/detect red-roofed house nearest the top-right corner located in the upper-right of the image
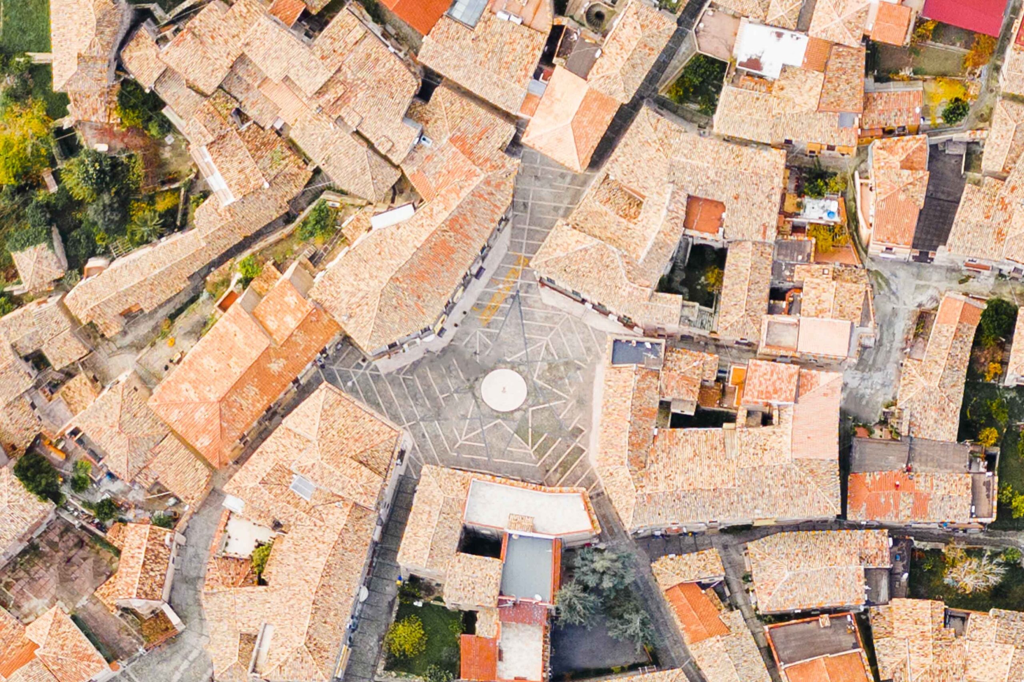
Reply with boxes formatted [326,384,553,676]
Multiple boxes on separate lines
[918,0,1008,46]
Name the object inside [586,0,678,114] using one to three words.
house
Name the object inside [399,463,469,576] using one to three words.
house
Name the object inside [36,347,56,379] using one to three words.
building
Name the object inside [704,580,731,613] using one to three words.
building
